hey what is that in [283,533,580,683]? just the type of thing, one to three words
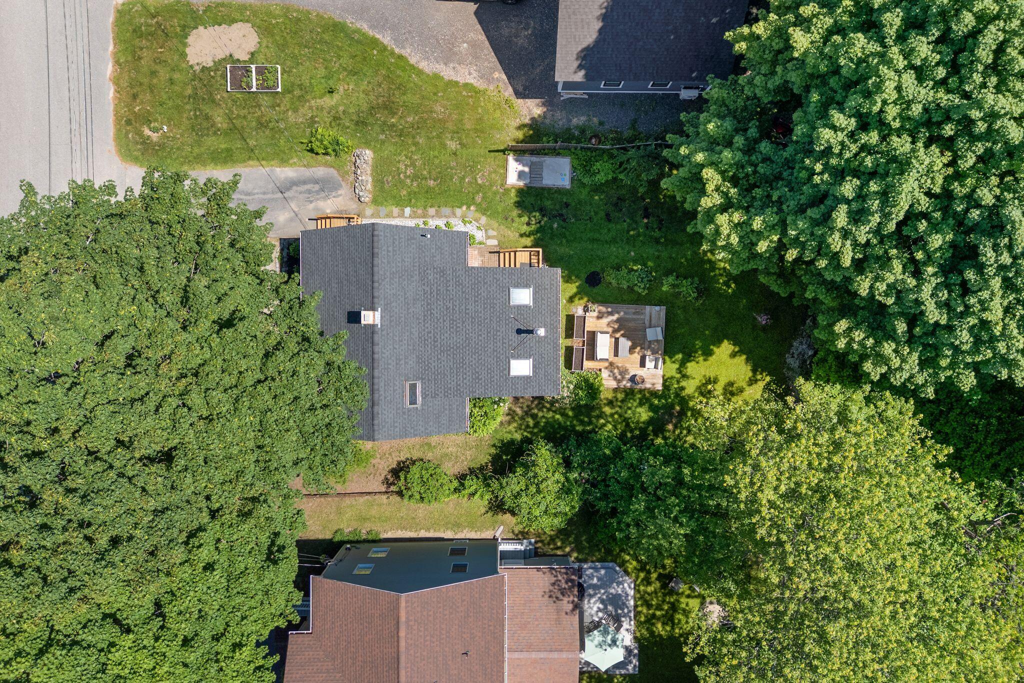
house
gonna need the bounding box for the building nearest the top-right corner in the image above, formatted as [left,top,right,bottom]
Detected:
[555,0,749,94]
